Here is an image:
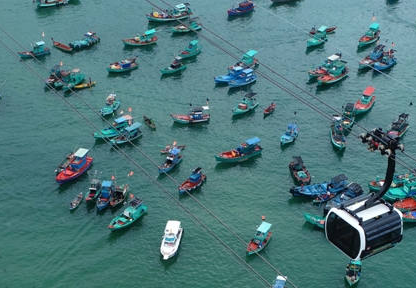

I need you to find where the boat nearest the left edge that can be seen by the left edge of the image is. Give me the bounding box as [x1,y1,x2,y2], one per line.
[18,40,51,59]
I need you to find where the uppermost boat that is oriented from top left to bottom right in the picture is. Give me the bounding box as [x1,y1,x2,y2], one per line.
[51,37,72,53]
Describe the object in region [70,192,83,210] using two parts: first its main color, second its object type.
gray boat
